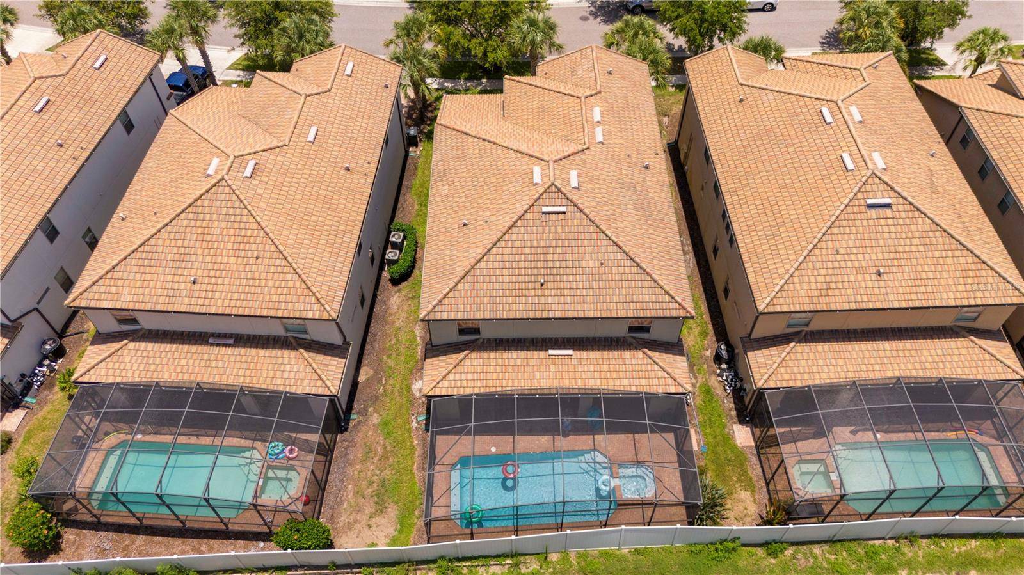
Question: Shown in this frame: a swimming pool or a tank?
swimming pool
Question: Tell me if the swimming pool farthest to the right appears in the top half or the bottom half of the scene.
bottom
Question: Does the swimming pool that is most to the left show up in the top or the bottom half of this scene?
bottom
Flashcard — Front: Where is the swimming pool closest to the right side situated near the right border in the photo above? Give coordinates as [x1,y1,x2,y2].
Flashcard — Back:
[823,433,1012,494]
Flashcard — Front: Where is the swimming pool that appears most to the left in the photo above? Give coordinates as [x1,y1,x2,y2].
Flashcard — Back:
[85,434,270,504]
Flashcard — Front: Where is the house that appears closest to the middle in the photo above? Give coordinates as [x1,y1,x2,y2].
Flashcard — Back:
[416,43,697,413]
